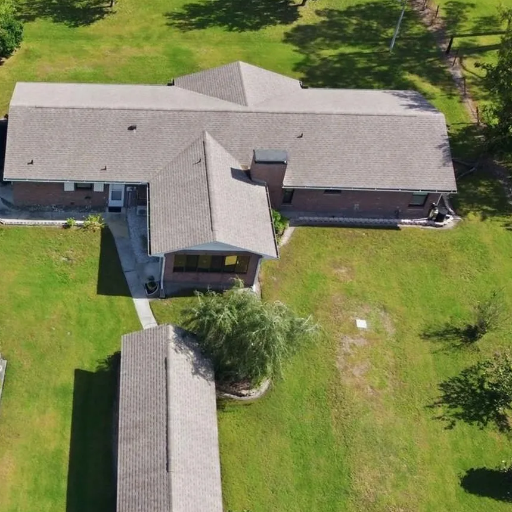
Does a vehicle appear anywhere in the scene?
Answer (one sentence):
No, I can't see a single vehicle in this photo.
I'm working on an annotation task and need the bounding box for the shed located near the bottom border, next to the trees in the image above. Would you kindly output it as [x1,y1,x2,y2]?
[116,323,224,512]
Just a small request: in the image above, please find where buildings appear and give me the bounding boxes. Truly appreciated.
[116,323,224,512]
[3,59,457,290]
